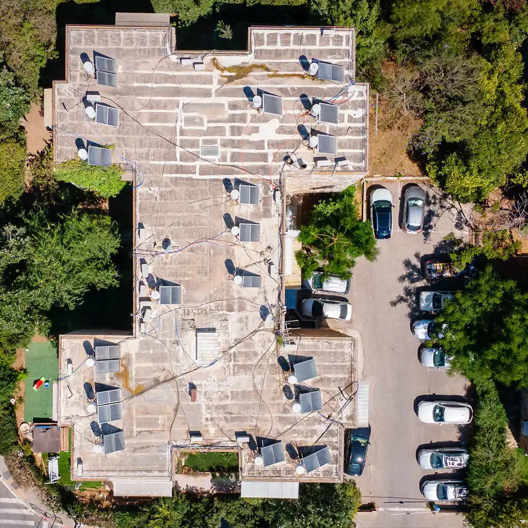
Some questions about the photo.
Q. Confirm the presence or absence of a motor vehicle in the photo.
Yes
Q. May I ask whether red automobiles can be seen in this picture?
No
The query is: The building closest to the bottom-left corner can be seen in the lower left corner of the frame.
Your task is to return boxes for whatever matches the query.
[34,420,64,452]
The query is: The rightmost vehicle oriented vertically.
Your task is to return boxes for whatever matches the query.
[400,185,424,235]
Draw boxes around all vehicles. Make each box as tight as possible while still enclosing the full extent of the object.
[415,400,475,428]
[416,448,473,474]
[411,317,460,343]
[418,346,475,370]
[400,185,424,235]
[301,272,352,295]
[369,188,396,240]
[420,479,476,505]
[344,428,372,478]
[299,296,354,322]
[417,288,473,314]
